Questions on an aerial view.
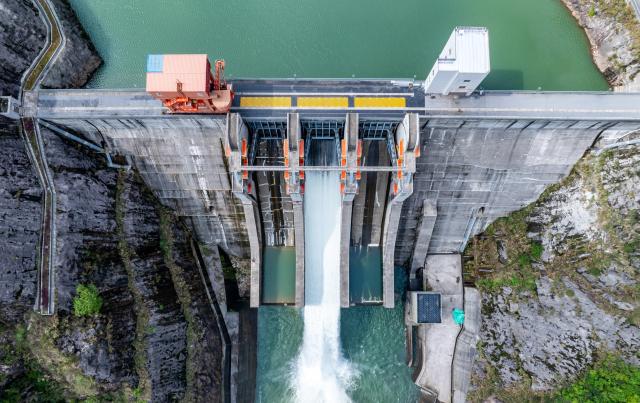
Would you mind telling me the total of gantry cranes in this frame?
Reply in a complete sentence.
I count just 1 gantry crane.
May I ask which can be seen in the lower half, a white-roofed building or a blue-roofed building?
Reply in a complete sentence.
Looking in the lower half, you will find a blue-roofed building.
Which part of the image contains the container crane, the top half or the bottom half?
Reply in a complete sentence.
The container crane sits in the top half of the picture.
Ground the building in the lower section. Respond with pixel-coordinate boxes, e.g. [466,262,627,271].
[399,291,443,323]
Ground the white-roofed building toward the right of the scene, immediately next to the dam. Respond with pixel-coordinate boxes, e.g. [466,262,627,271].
[424,25,491,94]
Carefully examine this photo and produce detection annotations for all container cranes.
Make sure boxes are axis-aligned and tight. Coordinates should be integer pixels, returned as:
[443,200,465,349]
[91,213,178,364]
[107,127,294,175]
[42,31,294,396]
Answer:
[143,54,234,118]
